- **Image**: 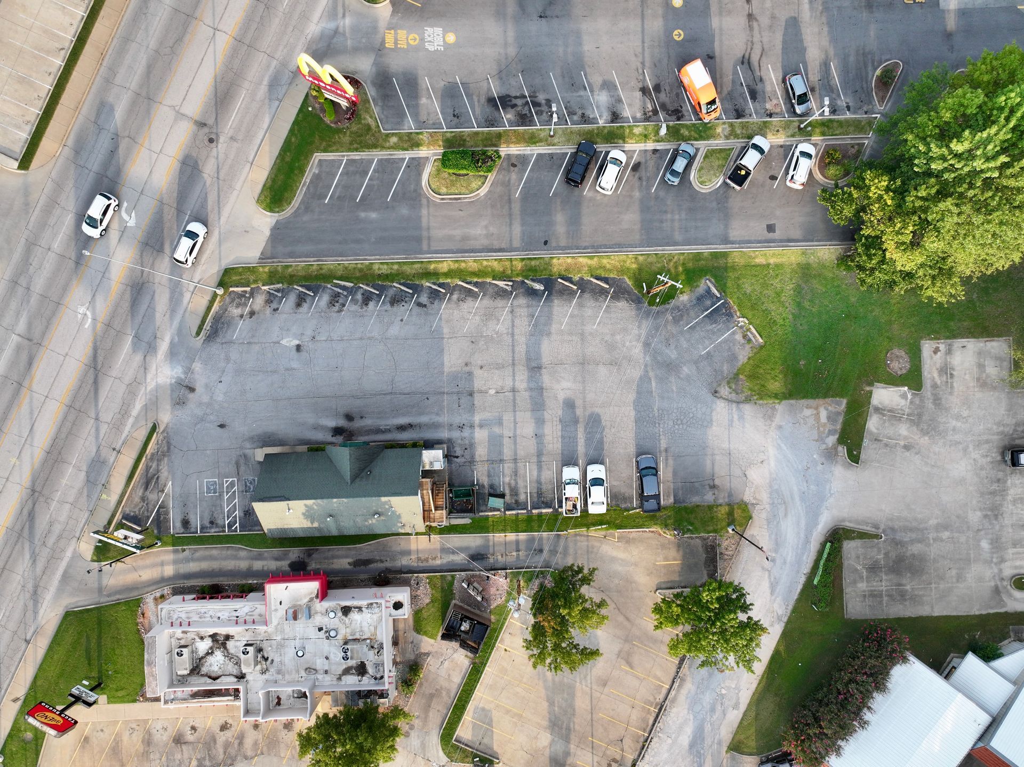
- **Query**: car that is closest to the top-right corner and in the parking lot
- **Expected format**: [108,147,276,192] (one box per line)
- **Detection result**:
[783,72,812,116]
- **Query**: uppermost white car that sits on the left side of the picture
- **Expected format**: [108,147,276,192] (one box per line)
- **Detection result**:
[83,193,119,236]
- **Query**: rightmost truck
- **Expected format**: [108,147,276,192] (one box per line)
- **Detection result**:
[1003,448,1024,470]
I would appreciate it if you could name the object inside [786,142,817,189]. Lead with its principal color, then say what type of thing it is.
white car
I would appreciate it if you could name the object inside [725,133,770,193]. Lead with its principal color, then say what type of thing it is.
white truck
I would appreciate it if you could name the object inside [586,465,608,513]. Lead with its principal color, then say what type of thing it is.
white car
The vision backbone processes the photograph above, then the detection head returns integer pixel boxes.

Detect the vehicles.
[725,133,770,193]
[561,466,583,516]
[637,456,662,514]
[664,142,695,186]
[565,140,595,188]
[786,142,817,189]
[174,225,206,266]
[597,150,626,194]
[586,465,608,513]
[677,56,718,122]
[1003,448,1024,470]
[783,72,812,116]
[83,193,119,236]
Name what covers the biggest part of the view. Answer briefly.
paved ground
